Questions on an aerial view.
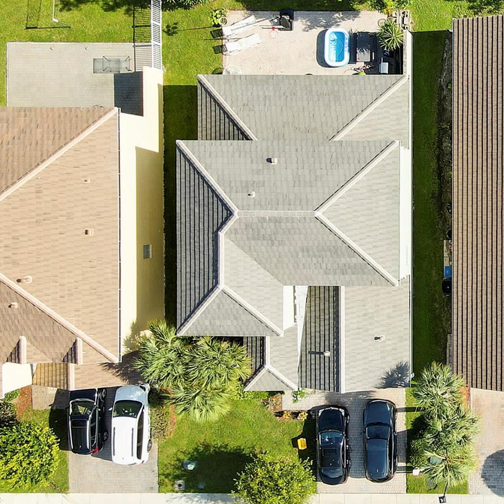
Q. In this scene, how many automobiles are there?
4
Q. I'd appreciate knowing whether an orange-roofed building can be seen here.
No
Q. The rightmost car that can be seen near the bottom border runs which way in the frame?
vertically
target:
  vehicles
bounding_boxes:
[67,388,112,461]
[360,397,400,481]
[113,380,158,466]
[316,403,355,487]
